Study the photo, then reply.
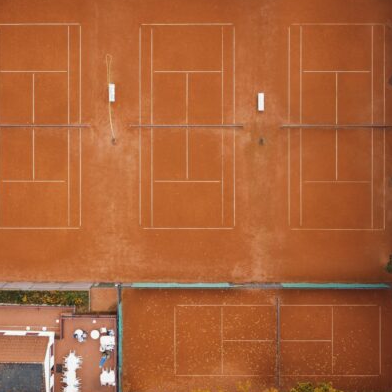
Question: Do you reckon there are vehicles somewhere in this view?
No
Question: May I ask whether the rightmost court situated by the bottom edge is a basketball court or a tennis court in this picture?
tennis court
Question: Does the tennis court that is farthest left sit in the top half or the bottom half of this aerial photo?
top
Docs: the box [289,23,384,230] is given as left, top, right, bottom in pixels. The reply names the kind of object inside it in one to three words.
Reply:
tennis court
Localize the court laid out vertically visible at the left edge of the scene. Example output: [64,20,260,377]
[0,24,80,229]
